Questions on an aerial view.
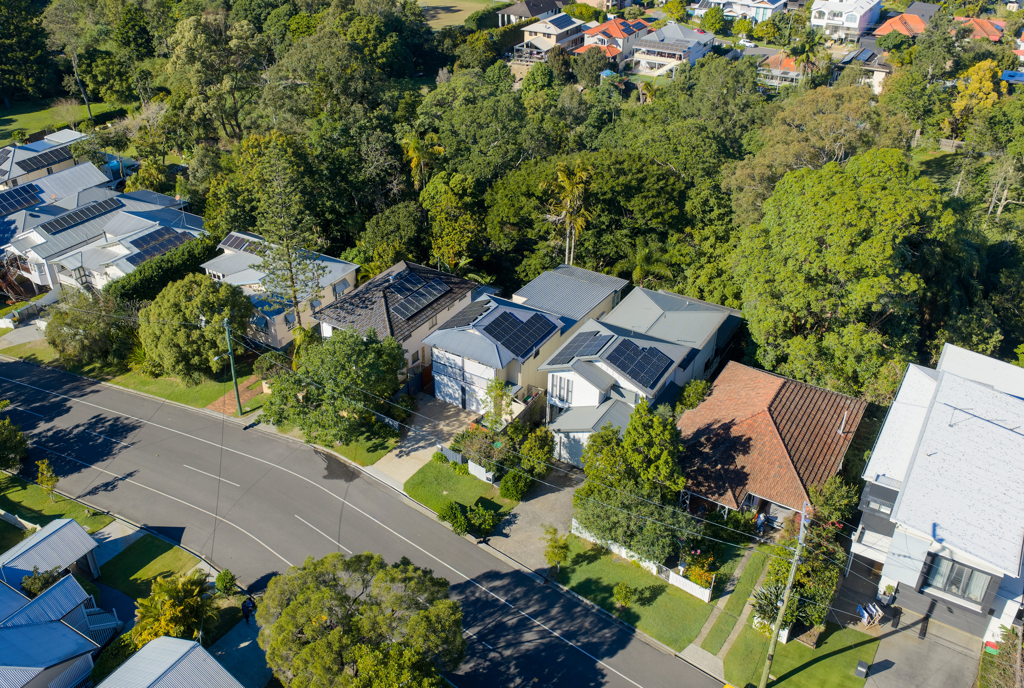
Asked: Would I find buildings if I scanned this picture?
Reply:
Yes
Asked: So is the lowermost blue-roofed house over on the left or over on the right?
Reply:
left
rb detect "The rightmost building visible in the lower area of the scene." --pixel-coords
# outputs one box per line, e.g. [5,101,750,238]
[841,343,1024,644]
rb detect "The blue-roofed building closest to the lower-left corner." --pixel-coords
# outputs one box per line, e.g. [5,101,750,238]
[0,573,125,688]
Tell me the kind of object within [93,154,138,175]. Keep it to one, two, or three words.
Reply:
swimming pool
